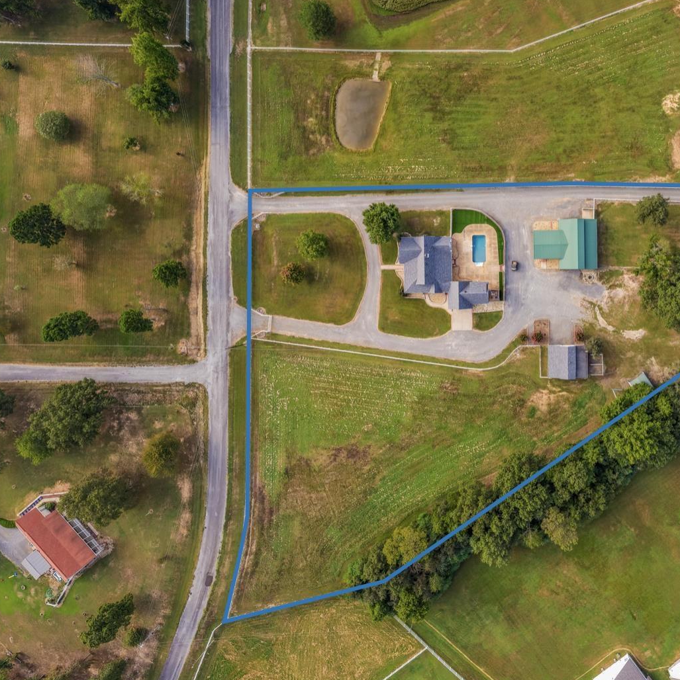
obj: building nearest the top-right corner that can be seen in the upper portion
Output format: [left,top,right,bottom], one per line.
[533,218,598,270]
